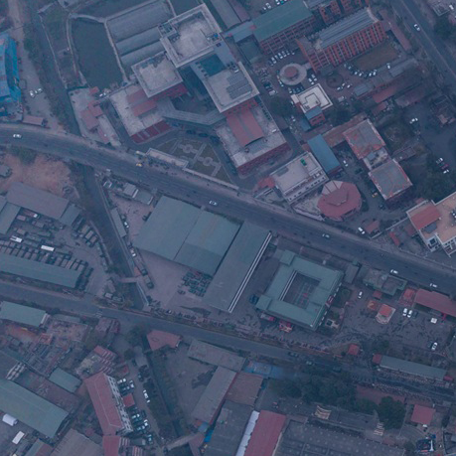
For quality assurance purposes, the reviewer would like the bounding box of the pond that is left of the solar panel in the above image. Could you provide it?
[68,10,125,91]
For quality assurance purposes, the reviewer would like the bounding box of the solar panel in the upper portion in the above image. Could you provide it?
[227,73,253,99]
